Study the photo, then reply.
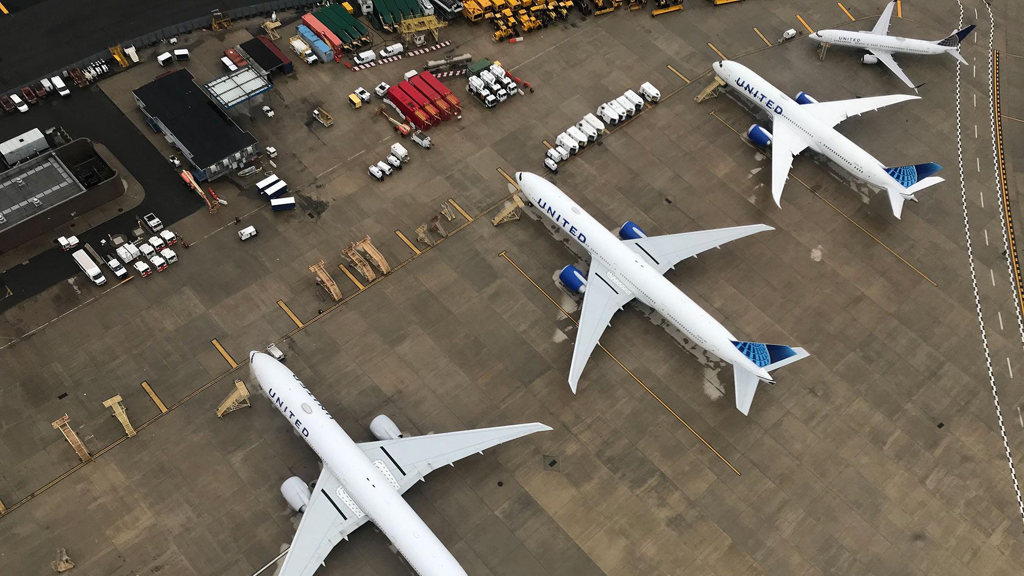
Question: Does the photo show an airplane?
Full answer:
Yes, there is an airplane in the image.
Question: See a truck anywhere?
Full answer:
Yes, there's a truck here.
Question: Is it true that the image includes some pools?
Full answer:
No, the photo shows no pool.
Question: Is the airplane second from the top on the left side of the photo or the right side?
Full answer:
The airplane second from the top sits on the right side.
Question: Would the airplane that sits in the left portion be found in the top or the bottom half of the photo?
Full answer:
The airplane that sits in the left portion is in the bottom half of the image.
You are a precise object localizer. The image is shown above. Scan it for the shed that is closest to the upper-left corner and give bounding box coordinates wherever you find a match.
[0,128,49,171]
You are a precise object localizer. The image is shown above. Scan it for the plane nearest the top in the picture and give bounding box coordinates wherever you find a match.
[809,0,976,92]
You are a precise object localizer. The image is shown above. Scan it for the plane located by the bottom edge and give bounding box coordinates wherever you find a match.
[248,353,553,576]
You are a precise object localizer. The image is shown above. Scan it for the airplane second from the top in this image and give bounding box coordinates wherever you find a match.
[712,61,944,220]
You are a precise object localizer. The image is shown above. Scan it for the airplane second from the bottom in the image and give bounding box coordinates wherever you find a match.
[514,174,811,416]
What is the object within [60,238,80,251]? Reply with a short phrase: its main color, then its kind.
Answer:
white vehicle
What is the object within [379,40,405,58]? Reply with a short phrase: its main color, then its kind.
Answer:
white vehicle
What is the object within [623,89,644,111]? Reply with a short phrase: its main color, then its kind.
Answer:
white truck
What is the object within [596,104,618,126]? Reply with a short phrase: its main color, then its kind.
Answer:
white truck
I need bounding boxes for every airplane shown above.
[248,353,553,576]
[809,0,976,92]
[514,174,811,416]
[712,61,944,220]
